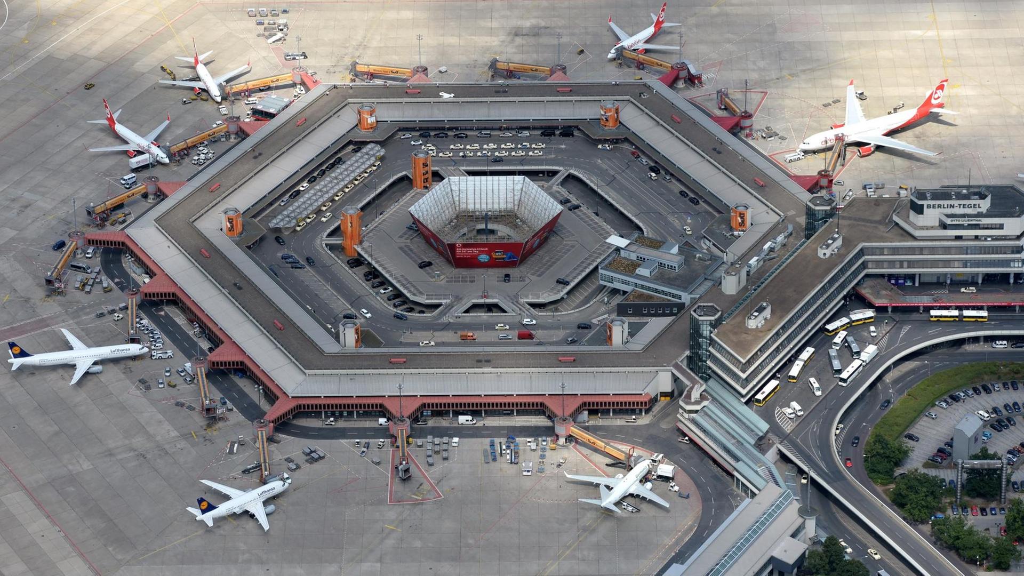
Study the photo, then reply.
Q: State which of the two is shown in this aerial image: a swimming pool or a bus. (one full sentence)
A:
It is a bus that can be seen here.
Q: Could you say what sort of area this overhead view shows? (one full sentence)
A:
The area seen from above is an airport.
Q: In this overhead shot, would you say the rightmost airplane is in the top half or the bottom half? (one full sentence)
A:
The rightmost airplane sits in the top half of the picture.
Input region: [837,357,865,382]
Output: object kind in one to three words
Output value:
bus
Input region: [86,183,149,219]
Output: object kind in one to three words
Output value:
jet bridge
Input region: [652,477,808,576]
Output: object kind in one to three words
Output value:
building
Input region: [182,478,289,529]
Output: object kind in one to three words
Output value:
airplane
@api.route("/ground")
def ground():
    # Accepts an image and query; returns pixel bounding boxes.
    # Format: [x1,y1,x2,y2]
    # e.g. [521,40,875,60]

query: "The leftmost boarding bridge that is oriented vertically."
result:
[126,297,141,345]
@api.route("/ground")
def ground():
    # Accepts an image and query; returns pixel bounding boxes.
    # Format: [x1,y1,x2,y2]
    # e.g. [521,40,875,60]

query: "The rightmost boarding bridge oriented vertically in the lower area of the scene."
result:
[395,428,413,476]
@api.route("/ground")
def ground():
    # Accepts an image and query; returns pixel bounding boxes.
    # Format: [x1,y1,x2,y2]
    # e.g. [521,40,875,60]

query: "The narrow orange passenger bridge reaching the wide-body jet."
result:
[824,130,848,173]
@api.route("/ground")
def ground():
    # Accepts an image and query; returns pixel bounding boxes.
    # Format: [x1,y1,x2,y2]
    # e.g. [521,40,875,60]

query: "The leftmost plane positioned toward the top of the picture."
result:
[88,102,174,165]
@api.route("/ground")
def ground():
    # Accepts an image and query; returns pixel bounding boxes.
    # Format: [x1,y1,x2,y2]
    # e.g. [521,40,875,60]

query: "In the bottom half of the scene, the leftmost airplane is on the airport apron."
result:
[9,328,149,386]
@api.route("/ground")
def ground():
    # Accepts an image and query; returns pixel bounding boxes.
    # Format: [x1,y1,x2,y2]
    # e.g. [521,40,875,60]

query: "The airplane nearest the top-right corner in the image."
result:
[798,80,959,157]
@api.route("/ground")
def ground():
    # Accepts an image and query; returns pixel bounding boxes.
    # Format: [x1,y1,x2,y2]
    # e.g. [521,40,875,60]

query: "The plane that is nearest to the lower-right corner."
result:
[566,459,672,517]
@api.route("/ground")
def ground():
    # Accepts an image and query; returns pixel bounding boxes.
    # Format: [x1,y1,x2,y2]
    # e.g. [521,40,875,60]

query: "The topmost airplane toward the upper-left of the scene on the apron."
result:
[157,39,252,104]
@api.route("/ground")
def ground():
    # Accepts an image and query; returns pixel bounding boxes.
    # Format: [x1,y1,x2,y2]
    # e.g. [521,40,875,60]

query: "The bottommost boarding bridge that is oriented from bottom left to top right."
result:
[45,239,80,285]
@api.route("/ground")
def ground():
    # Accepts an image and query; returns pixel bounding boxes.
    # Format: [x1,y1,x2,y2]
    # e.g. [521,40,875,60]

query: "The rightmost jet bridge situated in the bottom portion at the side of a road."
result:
[566,425,637,474]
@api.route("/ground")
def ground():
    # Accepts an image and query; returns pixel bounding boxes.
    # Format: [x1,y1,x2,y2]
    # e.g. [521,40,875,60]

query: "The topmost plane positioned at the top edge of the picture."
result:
[604,2,683,61]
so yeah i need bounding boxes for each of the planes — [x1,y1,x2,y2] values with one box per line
[9,328,149,386]
[604,2,683,61]
[88,102,174,165]
[157,39,252,104]
[798,80,959,157]
[182,478,289,529]
[566,459,672,517]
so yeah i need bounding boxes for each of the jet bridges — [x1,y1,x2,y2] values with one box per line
[395,428,413,476]
[126,297,141,345]
[221,71,296,103]
[824,130,848,173]
[45,239,80,285]
[196,367,217,418]
[486,62,552,83]
[566,425,637,474]
[616,47,673,74]
[86,183,149,219]
[162,122,230,159]
[256,429,274,485]
[347,64,413,84]
[715,88,745,117]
